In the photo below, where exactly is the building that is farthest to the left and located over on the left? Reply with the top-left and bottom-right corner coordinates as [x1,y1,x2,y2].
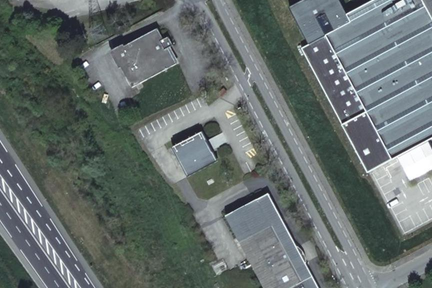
[111,28,178,88]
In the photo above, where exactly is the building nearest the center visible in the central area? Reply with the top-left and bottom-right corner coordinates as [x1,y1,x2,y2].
[172,132,216,176]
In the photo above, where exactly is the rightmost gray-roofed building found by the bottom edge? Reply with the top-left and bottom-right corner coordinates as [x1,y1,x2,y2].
[225,194,318,288]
